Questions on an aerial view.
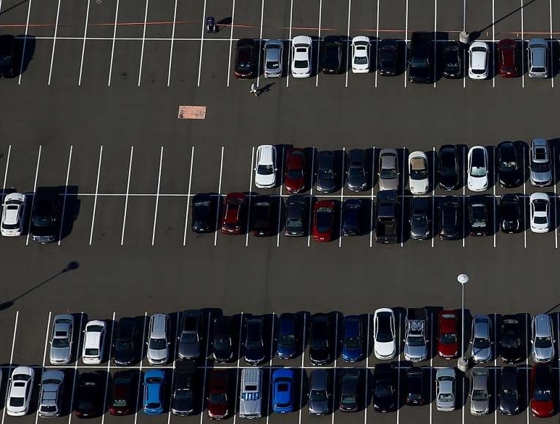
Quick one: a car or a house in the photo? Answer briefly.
car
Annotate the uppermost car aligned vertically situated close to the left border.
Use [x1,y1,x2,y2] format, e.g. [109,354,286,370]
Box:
[0,32,18,77]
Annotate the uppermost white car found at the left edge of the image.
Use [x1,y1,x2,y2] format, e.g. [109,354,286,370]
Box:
[0,191,27,236]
